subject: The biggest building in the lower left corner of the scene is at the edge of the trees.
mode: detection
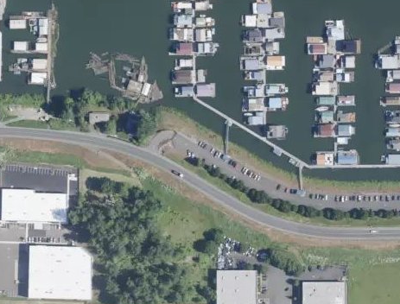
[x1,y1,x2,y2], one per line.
[27,246,91,300]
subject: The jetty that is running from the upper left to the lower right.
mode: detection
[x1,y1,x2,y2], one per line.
[193,95,309,167]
